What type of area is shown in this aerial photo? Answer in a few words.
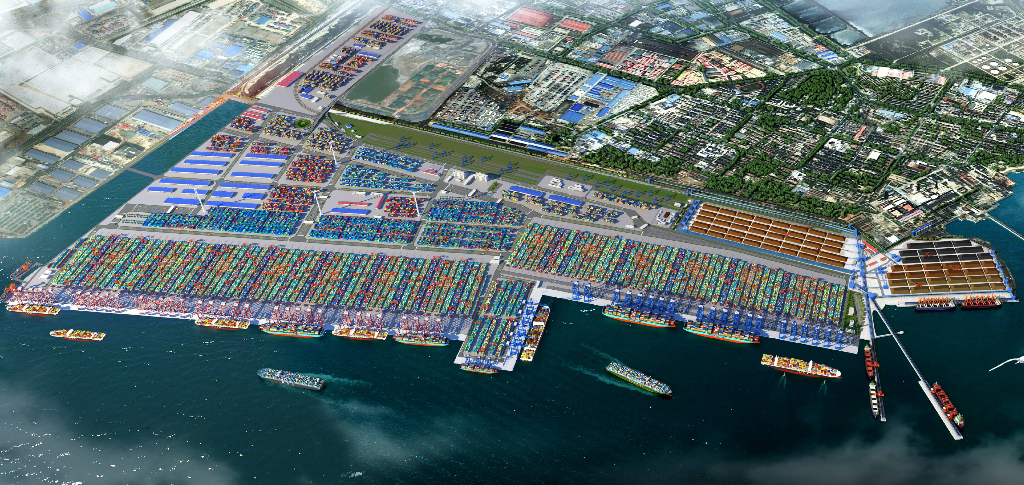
port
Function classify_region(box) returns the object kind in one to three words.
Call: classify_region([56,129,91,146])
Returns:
building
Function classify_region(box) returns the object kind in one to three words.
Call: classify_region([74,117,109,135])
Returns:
building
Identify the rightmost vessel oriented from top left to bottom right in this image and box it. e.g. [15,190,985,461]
[935,383,965,427]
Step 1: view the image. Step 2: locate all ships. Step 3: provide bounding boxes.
[392,337,448,349]
[762,357,842,380]
[257,370,323,391]
[935,383,965,427]
[864,345,874,378]
[49,330,104,343]
[459,365,498,375]
[963,300,1003,308]
[916,302,957,310]
[603,307,677,328]
[258,326,323,339]
[194,320,249,331]
[521,307,547,363]
[332,329,387,342]
[869,382,879,416]
[607,363,671,396]
[5,306,58,318]
[684,322,761,345]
